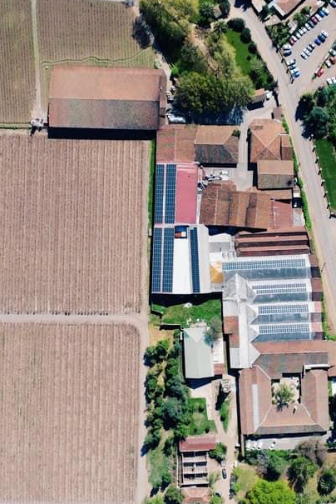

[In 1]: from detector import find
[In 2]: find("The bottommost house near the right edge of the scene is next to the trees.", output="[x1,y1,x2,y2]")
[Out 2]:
[240,339,336,435]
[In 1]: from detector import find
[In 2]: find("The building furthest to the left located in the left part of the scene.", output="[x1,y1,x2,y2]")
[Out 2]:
[47,66,167,131]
